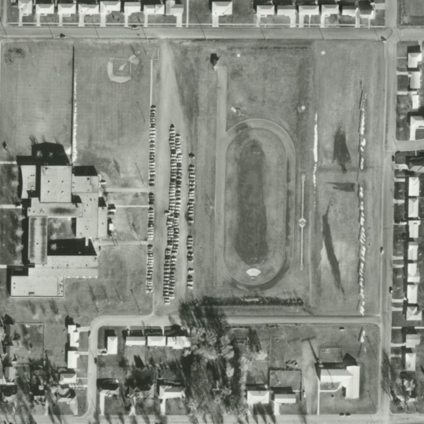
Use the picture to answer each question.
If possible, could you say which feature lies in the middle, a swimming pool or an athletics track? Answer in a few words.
athletics track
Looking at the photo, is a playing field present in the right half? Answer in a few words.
Yes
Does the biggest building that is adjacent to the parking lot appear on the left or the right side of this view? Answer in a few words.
left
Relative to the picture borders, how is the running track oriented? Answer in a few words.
vertically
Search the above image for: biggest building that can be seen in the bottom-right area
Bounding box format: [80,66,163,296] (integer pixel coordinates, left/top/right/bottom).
[320,366,359,399]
